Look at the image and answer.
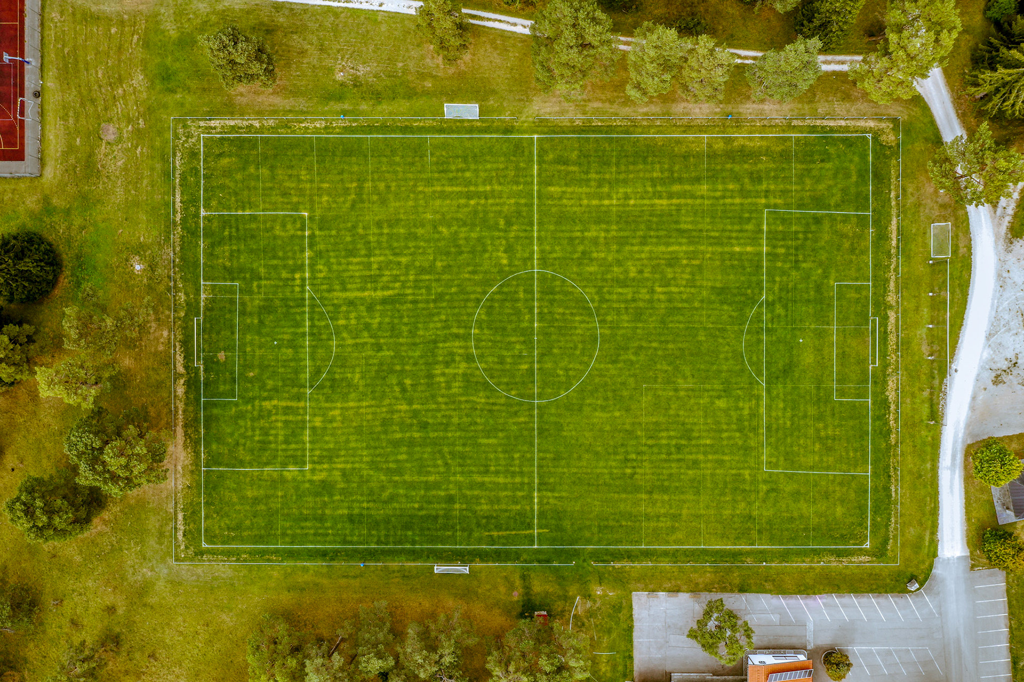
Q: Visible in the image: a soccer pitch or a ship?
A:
soccer pitch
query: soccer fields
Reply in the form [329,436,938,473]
[174,119,898,562]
